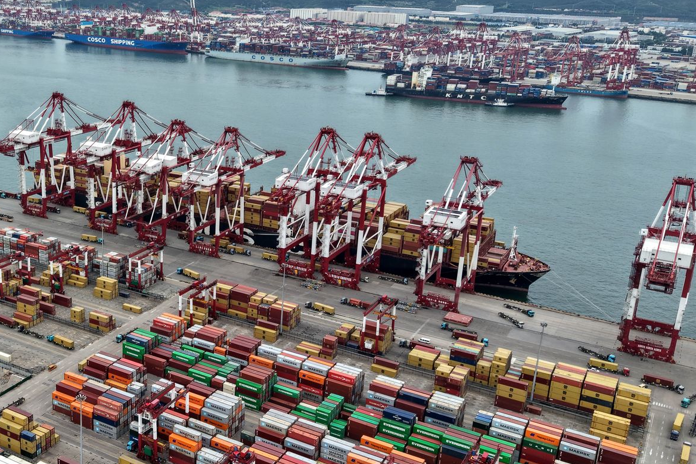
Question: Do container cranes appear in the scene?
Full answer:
Yes, looking at the shot, I can spot a container crane.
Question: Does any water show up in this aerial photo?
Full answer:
Yes, the picture does contain water.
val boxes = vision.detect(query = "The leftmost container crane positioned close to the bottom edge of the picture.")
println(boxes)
[131,379,191,464]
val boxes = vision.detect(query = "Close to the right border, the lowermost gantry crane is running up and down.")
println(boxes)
[611,178,696,363]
